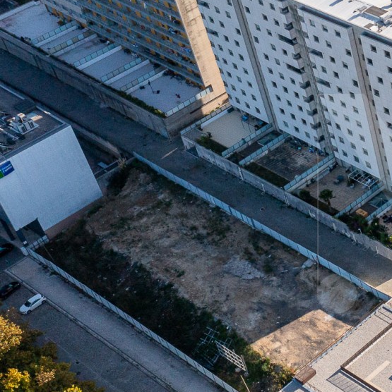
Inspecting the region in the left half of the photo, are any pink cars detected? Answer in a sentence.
No, the scene shows no pink car in the left half of the photo.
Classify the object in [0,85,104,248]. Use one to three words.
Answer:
building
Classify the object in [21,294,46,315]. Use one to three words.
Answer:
car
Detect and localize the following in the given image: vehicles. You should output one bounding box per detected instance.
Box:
[0,241,22,257]
[0,279,27,301]
[21,294,46,315]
